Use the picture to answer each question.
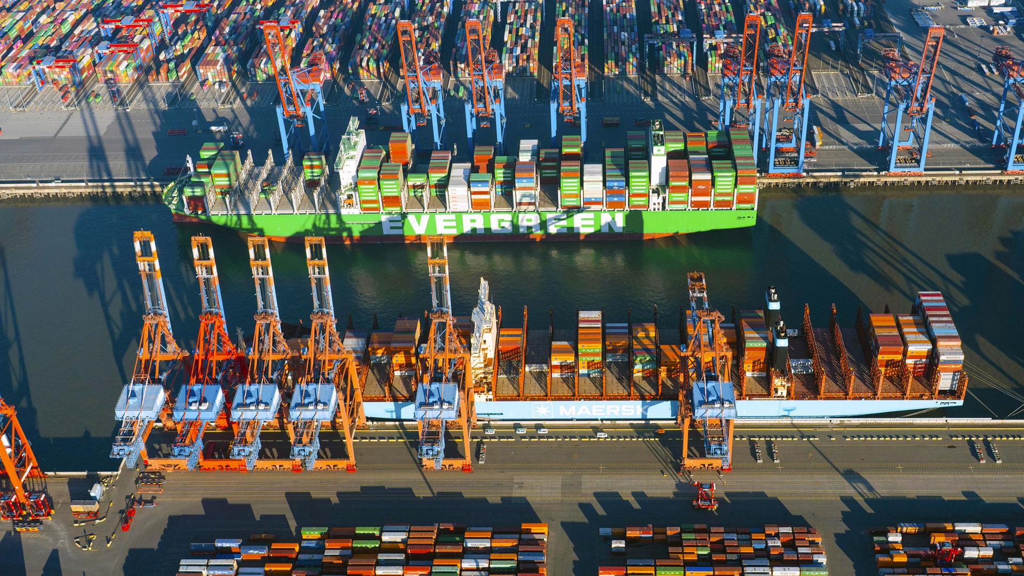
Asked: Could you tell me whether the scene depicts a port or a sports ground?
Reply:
port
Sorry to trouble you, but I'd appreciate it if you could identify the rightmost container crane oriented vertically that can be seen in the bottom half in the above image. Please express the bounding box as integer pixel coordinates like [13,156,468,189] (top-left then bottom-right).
[672,271,741,474]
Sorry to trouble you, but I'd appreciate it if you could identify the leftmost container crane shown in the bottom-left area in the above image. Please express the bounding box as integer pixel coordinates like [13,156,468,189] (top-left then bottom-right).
[0,392,43,529]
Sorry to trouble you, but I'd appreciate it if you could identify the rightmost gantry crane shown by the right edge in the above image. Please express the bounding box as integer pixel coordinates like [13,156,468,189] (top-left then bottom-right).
[988,45,1024,170]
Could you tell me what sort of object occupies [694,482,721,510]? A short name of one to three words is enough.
work vehicle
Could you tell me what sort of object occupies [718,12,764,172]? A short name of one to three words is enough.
container crane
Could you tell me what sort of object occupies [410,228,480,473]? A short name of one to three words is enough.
container crane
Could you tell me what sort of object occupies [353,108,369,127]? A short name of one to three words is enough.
work vehicle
